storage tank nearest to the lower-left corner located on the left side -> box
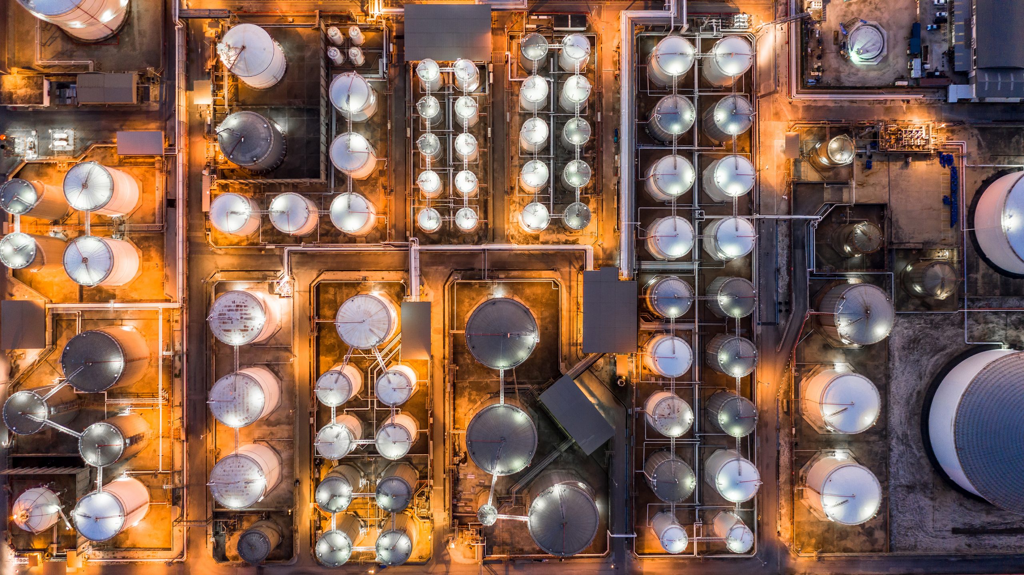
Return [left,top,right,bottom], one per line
[8,482,75,534]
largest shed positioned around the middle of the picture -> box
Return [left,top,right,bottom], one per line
[582,267,637,353]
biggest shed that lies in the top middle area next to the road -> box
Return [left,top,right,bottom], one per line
[404,4,491,68]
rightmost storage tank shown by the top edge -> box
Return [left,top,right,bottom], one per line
[842,22,885,65]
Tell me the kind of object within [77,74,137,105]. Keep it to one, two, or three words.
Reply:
building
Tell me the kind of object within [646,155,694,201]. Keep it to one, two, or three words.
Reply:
storage tank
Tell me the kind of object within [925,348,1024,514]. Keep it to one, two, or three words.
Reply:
storage tank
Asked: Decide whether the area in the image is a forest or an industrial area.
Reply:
industrial area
